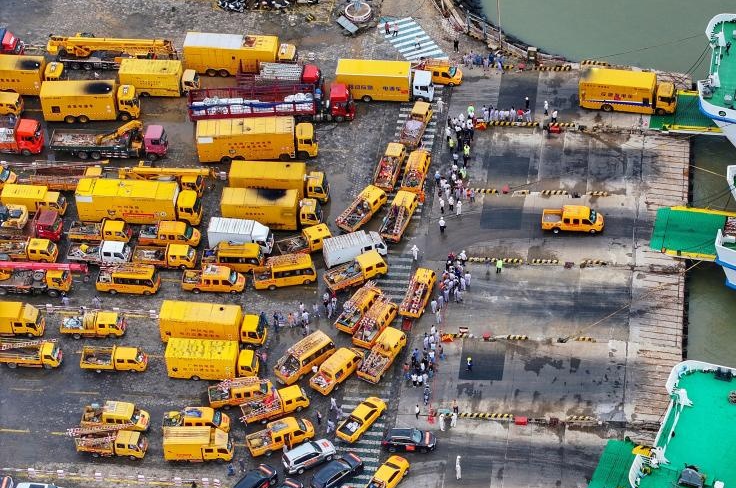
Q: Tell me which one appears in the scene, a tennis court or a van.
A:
van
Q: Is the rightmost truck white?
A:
No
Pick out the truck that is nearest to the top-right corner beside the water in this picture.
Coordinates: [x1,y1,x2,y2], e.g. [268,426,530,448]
[579,67,680,114]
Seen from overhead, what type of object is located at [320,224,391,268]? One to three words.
truck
